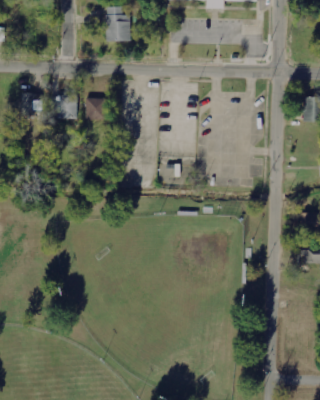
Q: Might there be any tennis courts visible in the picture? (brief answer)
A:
No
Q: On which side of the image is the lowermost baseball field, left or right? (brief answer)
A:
left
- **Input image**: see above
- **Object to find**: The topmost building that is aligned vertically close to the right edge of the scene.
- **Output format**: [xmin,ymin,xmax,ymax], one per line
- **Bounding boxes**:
[304,96,316,122]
